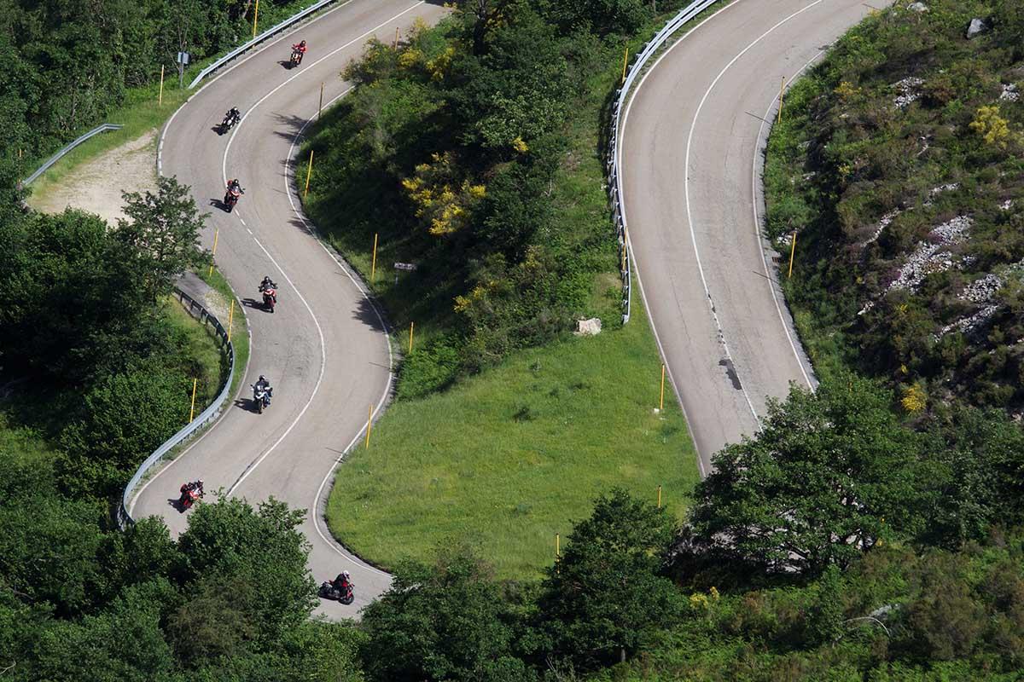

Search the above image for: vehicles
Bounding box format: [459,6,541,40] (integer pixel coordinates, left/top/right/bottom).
[259,289,277,316]
[180,484,207,517]
[225,187,243,212]
[221,114,239,136]
[249,387,269,418]
[317,571,356,605]
[288,46,303,67]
